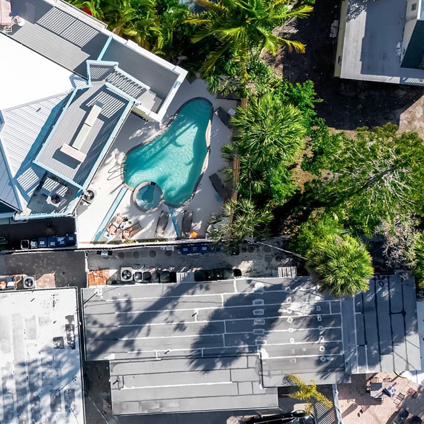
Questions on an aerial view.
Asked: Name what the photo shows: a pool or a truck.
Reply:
pool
